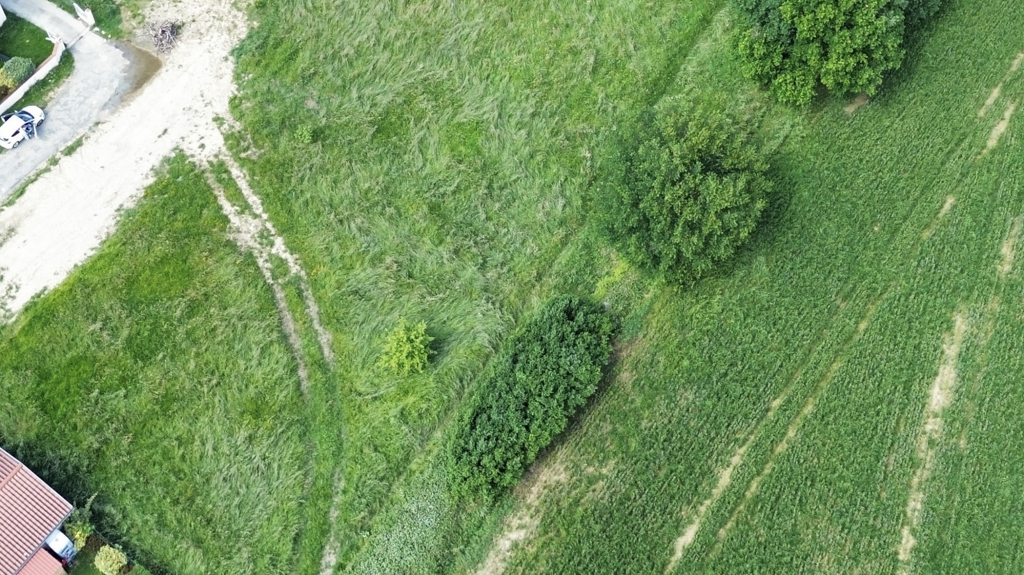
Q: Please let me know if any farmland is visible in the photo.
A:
Yes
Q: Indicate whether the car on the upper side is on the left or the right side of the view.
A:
left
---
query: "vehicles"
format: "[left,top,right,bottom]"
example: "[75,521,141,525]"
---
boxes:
[0,104,46,149]
[45,531,80,563]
